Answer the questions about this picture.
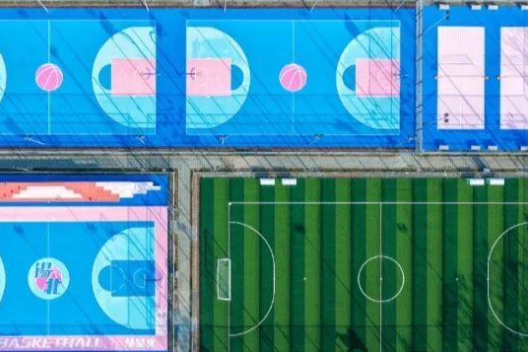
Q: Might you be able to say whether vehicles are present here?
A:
No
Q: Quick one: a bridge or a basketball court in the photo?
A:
basketball court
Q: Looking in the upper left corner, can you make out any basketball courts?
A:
Yes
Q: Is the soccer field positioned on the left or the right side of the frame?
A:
right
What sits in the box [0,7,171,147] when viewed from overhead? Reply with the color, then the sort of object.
blue basketball court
